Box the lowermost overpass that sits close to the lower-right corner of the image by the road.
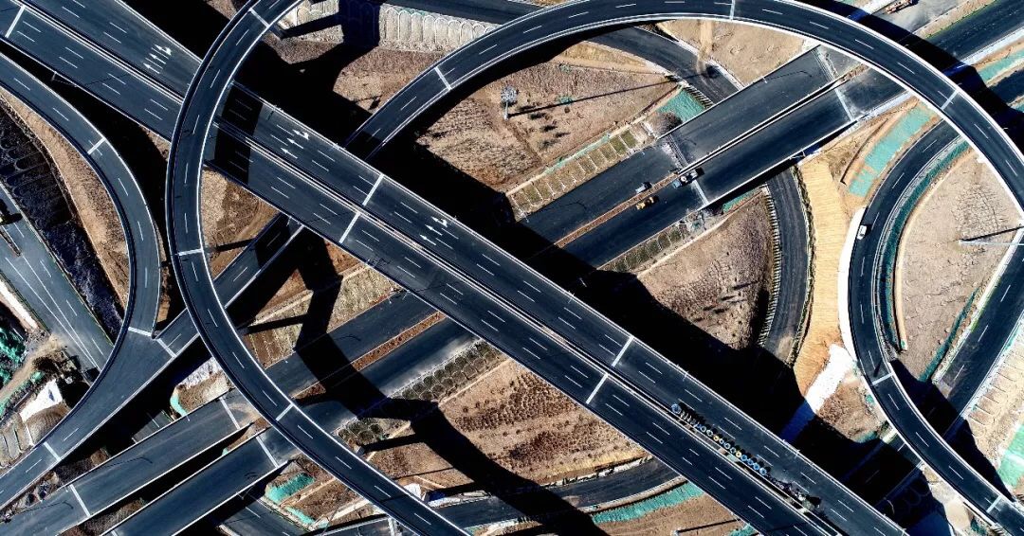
[870,372,1024,536]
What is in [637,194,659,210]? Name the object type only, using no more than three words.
work vehicle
